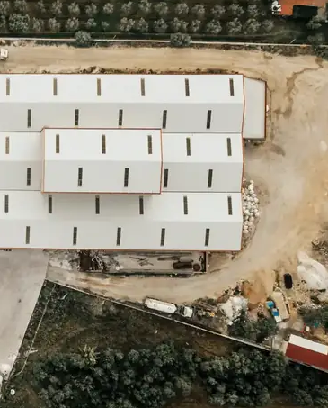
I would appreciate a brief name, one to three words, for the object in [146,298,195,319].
truck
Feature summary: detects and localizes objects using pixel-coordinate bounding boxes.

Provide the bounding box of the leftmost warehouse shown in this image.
[0,73,246,252]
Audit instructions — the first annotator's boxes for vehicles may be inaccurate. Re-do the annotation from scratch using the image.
[146,298,195,319]
[0,48,8,58]
[271,290,294,320]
